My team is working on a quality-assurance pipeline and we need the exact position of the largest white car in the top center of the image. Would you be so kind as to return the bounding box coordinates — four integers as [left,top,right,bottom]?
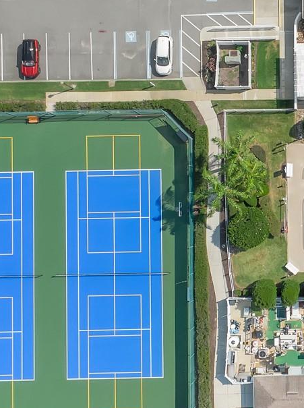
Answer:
[154,36,174,76]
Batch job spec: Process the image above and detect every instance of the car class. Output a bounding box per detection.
[154,36,174,76]
[20,39,42,79]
